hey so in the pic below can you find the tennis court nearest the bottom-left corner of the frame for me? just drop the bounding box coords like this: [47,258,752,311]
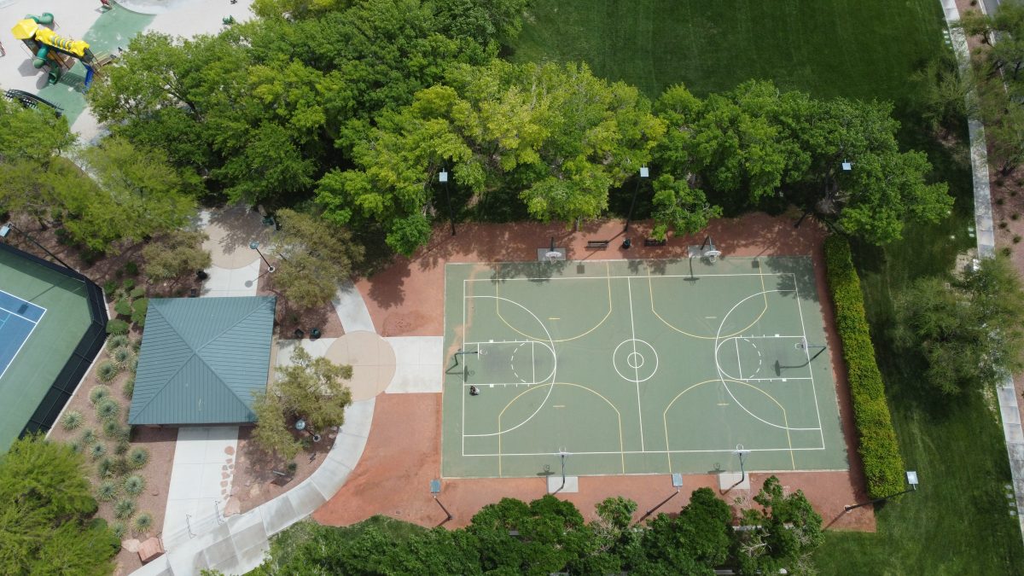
[0,248,111,463]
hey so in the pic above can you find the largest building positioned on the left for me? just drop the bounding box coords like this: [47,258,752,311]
[126,294,276,426]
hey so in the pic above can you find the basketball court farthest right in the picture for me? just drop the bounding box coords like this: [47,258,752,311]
[442,255,849,478]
